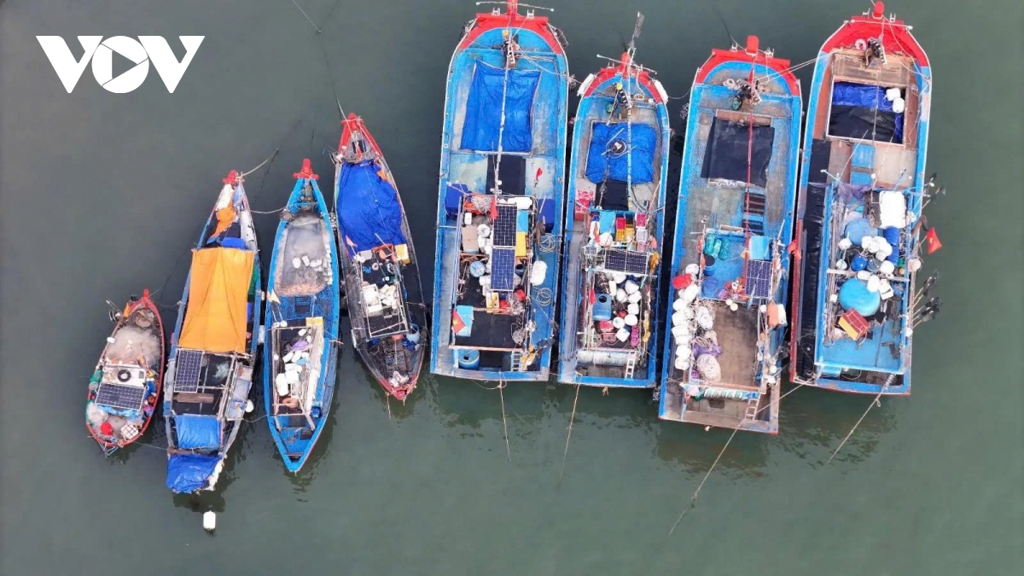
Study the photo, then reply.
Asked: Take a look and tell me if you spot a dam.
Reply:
No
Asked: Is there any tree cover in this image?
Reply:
No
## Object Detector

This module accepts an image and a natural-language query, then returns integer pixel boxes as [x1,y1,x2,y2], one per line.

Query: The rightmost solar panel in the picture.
[745,258,771,300]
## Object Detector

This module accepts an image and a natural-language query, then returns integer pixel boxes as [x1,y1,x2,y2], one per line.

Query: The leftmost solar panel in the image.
[94,382,146,412]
